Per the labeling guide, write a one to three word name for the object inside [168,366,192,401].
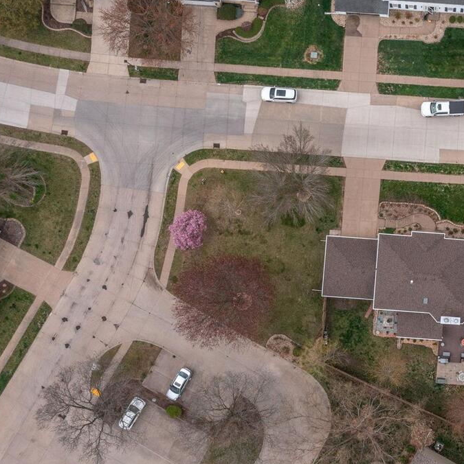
car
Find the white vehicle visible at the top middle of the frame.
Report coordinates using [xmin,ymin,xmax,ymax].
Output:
[264,86,297,103]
